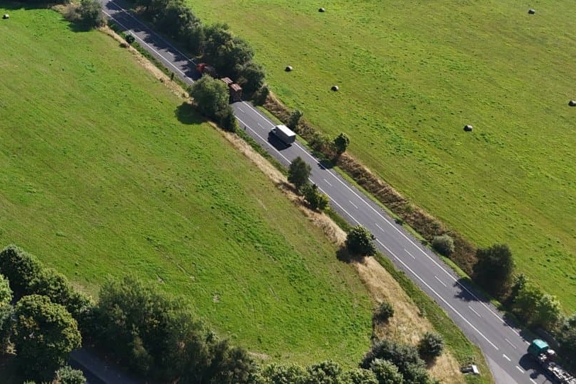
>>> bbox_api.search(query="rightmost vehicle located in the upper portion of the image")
[270,124,294,143]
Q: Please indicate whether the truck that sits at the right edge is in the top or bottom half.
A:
bottom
